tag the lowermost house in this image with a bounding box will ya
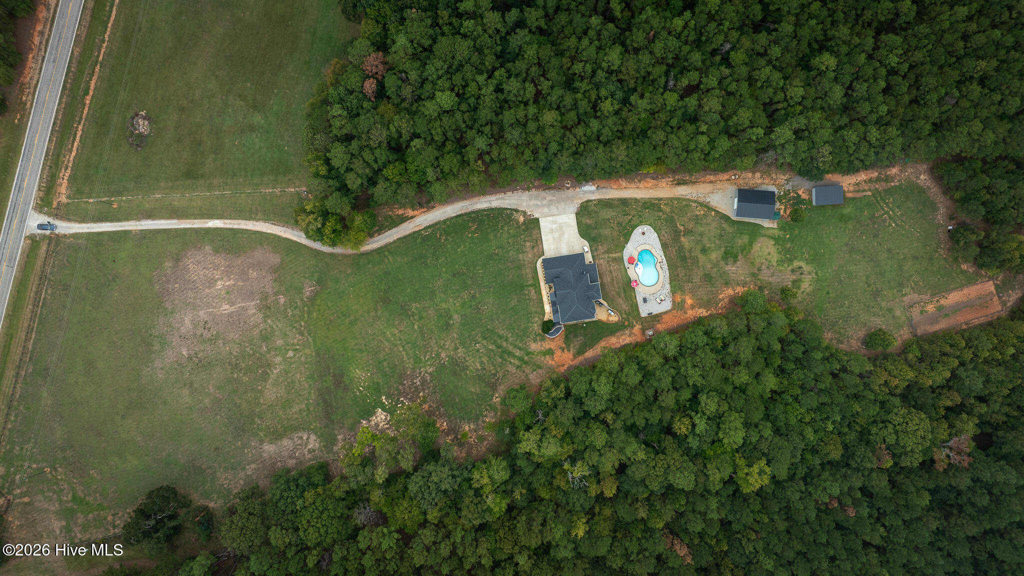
[542,252,602,324]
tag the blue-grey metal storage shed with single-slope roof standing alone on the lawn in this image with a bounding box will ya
[811,185,843,206]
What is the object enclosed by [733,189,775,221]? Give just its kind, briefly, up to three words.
building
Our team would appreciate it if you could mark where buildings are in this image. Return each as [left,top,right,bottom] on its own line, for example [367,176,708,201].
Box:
[811,185,843,206]
[733,189,775,221]
[542,252,602,324]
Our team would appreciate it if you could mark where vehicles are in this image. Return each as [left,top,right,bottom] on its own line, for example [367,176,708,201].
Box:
[582,245,589,253]
[33,220,55,231]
